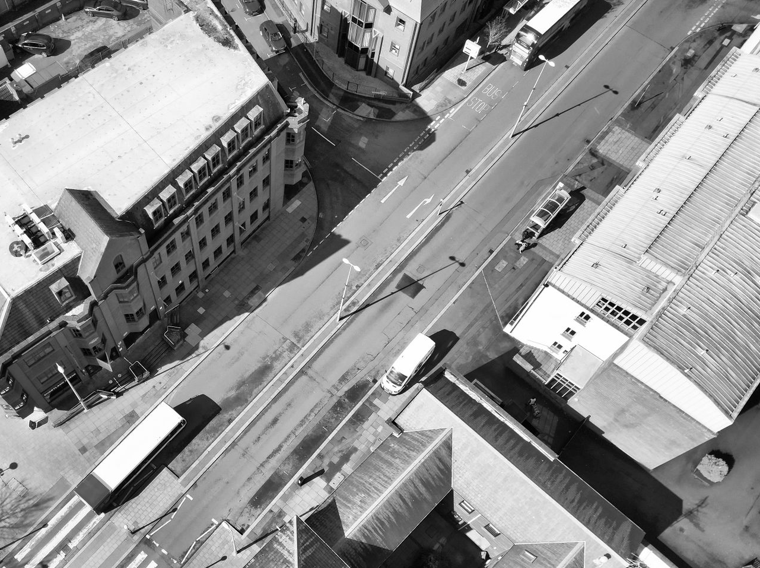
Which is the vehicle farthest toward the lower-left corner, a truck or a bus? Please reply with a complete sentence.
I'd identify the vehicle farthest toward the lower-left corner as a bus.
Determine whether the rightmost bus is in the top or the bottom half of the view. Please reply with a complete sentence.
The rightmost bus sits in the top half of the picture.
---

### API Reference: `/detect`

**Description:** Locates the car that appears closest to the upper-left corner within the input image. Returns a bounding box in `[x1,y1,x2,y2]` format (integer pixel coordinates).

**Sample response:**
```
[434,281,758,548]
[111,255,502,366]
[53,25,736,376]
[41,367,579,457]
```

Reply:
[12,32,56,55]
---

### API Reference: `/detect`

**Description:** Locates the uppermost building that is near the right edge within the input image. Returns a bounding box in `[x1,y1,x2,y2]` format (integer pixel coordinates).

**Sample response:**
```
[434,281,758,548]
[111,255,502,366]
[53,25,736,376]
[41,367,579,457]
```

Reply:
[510,8,760,462]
